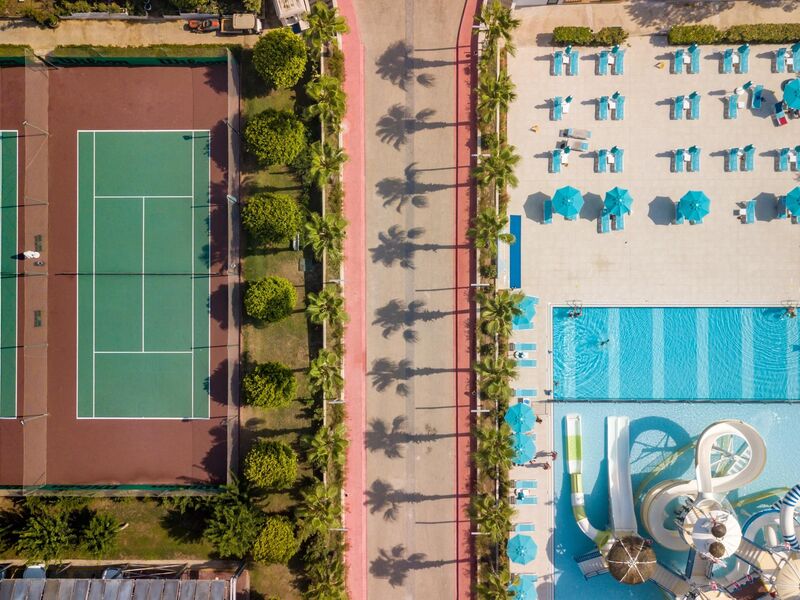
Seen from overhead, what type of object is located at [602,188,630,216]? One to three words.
umbrella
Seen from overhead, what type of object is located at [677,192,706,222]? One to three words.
umbrella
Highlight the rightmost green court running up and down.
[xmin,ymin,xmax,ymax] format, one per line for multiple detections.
[48,68,238,485]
